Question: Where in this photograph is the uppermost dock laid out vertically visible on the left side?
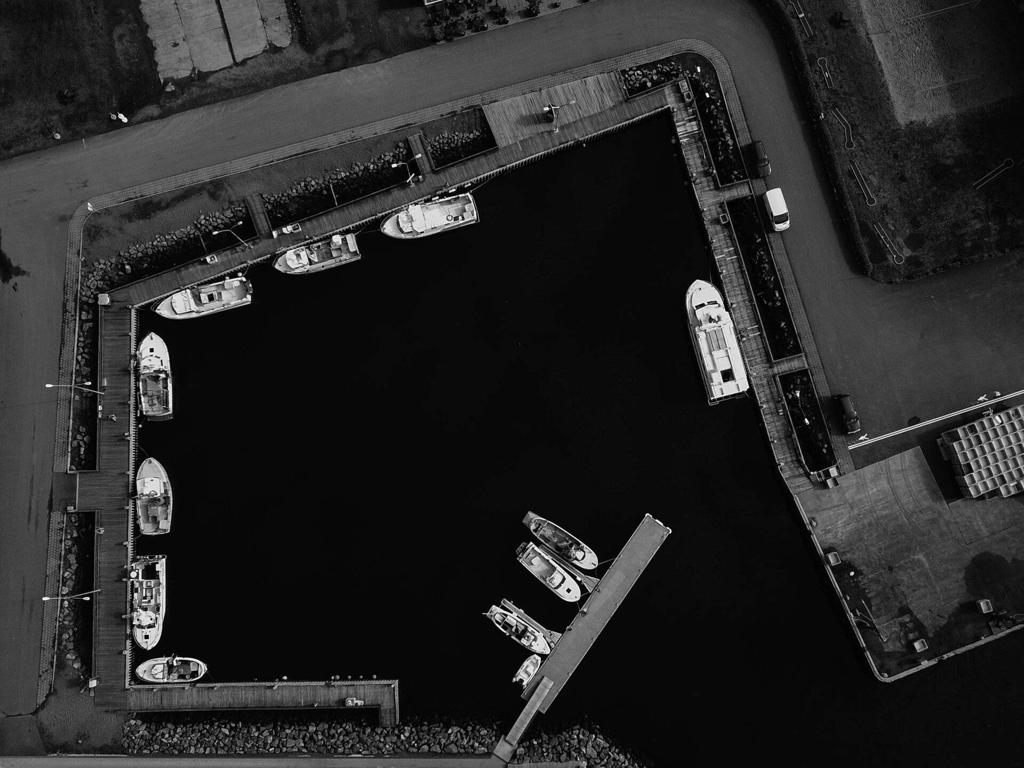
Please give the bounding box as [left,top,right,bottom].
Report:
[67,304,145,708]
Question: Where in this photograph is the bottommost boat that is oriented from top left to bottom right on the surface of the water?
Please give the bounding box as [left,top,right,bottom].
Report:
[482,604,550,654]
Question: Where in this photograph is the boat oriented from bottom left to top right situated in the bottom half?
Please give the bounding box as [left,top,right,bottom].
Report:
[513,654,541,688]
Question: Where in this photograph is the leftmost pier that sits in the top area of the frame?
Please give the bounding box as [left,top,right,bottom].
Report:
[106,75,686,313]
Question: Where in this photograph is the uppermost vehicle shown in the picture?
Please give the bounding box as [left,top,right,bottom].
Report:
[749,142,772,178]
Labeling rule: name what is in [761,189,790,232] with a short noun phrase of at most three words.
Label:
van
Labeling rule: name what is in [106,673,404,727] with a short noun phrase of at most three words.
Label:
pier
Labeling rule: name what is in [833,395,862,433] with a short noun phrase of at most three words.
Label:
car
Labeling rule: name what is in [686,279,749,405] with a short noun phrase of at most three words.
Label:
boat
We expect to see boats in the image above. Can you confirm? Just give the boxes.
[482,604,550,654]
[151,273,254,318]
[132,458,175,535]
[135,653,209,682]
[522,511,598,570]
[686,279,749,405]
[381,184,479,239]
[513,654,541,688]
[516,542,581,602]
[131,555,169,650]
[272,234,361,273]
[136,332,175,420]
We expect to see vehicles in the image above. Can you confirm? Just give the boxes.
[761,189,790,232]
[833,395,862,433]
[749,142,772,178]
